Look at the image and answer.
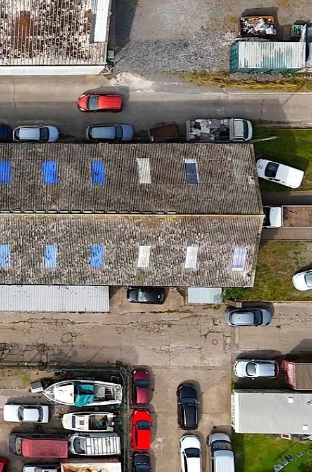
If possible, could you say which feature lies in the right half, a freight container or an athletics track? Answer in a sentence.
The feature located in the right half is a freight container.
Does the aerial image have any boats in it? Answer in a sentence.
Yes, the frame does contain a boat.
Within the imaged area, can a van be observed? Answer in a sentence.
Yes, I can see a van in this picture.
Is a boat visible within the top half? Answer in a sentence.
No, within the top half there is no boat.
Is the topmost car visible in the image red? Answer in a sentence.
Yes, the topmost car is indeed red.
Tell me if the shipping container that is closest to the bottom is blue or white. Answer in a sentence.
From above, the shipping container that is closest to the bottom appears white.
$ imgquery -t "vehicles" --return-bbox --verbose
[257,159,306,191]
[262,204,312,230]
[0,455,9,472]
[129,409,152,451]
[3,403,49,425]
[84,120,133,141]
[125,288,165,306]
[130,452,153,472]
[184,115,251,141]
[75,93,122,114]
[289,268,312,291]
[279,358,312,392]
[68,431,125,461]
[21,463,58,472]
[175,382,202,430]
[224,306,270,328]
[231,358,277,380]
[12,121,59,141]
[177,432,204,472]
[205,432,241,472]
[9,431,71,462]
[128,367,152,409]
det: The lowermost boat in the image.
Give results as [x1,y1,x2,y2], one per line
[63,412,119,431]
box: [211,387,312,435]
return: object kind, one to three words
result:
house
